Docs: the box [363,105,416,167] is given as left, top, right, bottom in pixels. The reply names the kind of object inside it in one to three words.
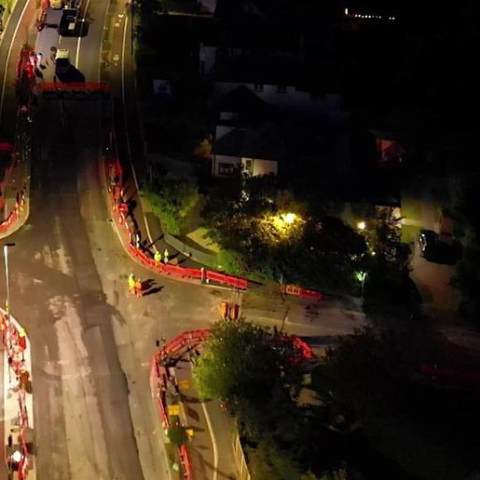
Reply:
house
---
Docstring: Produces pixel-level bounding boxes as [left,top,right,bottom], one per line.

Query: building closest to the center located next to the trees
[208,115,286,181]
